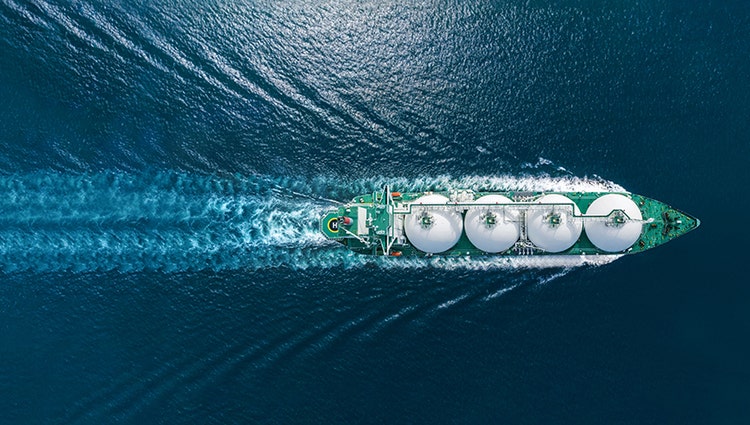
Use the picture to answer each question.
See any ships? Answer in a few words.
Yes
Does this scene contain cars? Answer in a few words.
No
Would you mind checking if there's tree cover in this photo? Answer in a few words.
No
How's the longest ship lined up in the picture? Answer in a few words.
from side to side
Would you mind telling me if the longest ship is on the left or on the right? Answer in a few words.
right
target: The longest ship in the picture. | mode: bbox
[319,184,699,259]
